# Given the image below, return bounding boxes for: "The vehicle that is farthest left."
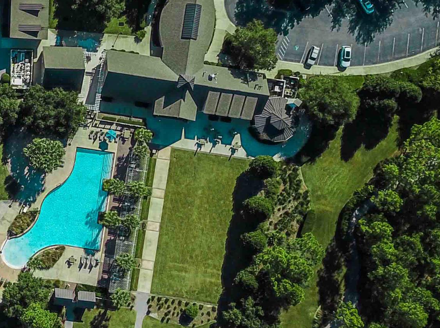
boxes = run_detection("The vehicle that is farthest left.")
[306,45,322,67]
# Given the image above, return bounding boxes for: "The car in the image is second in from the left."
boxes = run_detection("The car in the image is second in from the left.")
[341,44,354,68]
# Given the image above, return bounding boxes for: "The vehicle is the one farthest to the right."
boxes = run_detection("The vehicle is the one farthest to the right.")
[358,0,376,14]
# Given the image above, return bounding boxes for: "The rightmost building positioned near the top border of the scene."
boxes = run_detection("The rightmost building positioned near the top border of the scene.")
[100,0,274,121]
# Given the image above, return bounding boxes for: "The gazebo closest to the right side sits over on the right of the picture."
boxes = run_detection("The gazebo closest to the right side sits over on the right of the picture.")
[255,99,305,143]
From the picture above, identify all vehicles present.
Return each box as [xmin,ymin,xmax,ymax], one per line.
[341,44,354,68]
[358,0,376,14]
[306,45,322,67]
